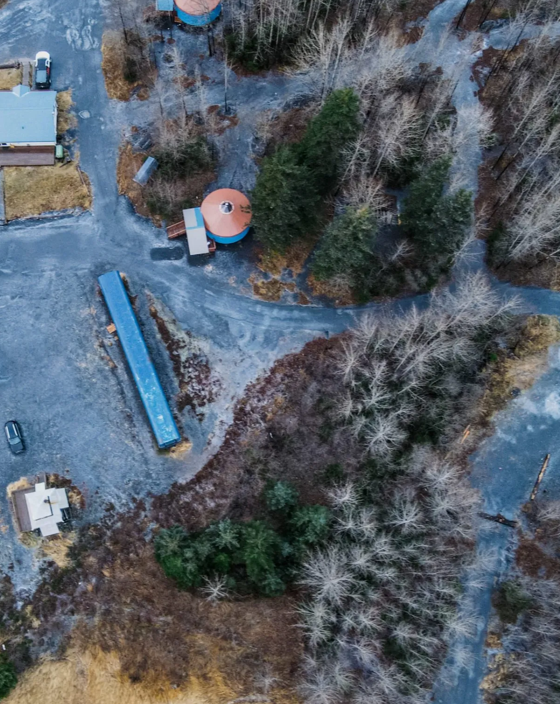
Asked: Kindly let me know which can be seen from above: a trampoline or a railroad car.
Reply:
railroad car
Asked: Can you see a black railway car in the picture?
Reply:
No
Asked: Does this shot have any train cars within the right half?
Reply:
No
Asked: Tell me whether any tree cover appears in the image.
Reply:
Yes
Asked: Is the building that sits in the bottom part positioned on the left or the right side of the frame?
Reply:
left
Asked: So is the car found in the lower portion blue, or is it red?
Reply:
blue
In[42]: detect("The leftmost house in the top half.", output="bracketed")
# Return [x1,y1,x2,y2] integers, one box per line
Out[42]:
[0,83,61,152]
